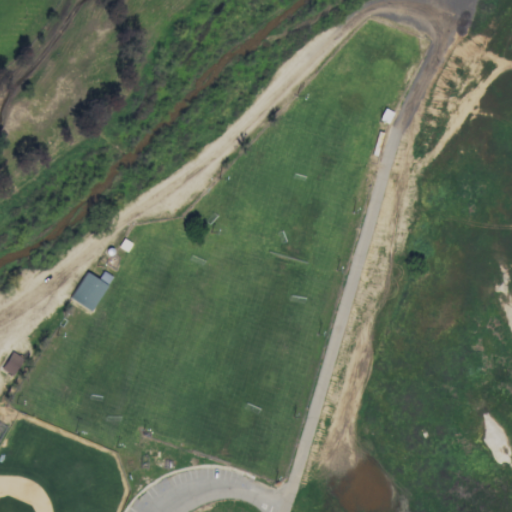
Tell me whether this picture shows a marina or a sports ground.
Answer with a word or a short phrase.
sports ground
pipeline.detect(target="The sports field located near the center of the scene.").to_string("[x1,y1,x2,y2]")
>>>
[13,24,422,480]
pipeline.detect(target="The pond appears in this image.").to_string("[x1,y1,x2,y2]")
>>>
[337,454,394,512]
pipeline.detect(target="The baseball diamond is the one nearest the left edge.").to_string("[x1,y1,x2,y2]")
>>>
[0,408,128,512]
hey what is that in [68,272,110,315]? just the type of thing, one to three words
building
